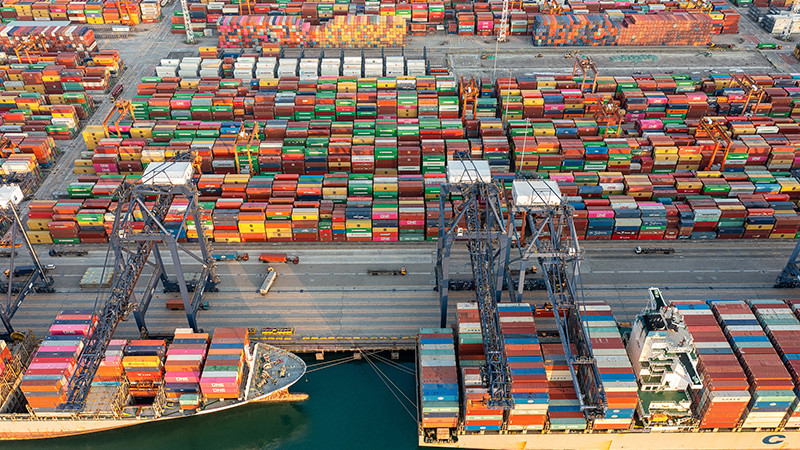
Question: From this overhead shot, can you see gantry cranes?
Yes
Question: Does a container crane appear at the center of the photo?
Yes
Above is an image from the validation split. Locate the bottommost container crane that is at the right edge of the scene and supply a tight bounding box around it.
[769,234,800,287]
